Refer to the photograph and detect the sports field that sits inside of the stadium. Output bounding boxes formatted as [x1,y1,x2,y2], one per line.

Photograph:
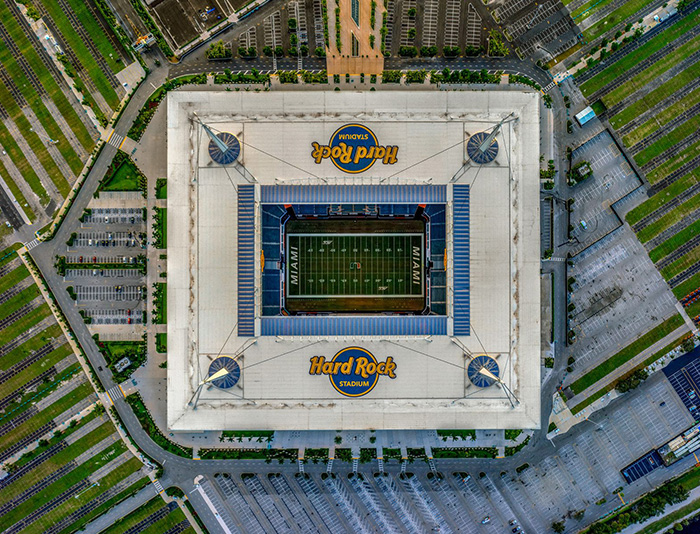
[284,222,427,308]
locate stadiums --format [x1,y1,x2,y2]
[167,92,540,430]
